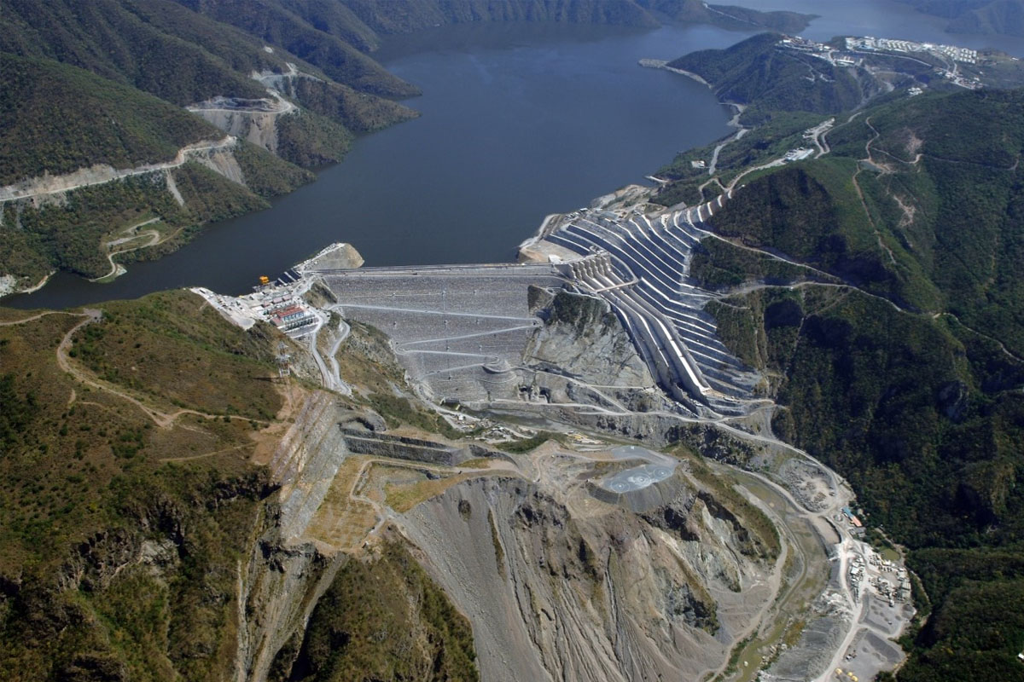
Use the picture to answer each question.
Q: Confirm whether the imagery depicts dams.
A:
Yes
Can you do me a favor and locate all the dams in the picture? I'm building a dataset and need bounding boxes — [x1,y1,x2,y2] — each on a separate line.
[312,264,567,412]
